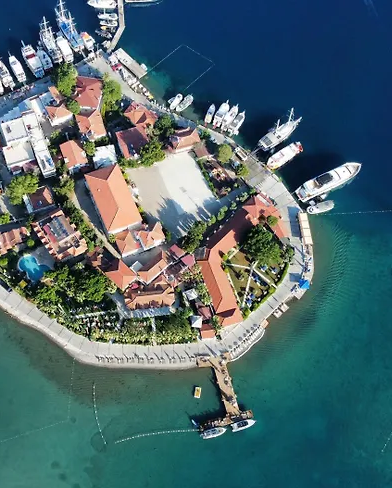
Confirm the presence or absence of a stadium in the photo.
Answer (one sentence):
No, the scene contains no stadium.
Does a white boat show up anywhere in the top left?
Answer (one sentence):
Yes, in the top left there is a white boat.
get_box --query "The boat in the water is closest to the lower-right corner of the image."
[230,418,257,431]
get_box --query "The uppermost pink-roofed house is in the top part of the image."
[75,76,102,111]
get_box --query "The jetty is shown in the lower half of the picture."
[196,353,253,431]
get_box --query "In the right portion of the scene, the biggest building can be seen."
[199,194,291,329]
